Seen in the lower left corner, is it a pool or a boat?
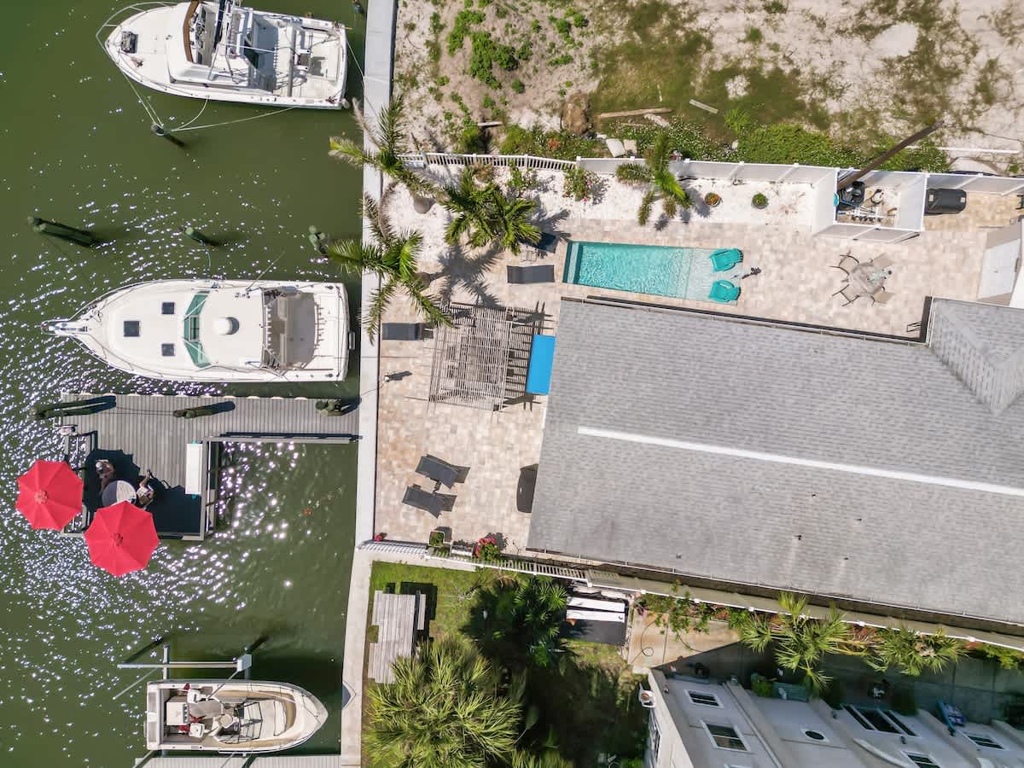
boat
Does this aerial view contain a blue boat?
No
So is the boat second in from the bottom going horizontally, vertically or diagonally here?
horizontally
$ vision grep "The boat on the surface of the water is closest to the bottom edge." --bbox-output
[143,677,329,754]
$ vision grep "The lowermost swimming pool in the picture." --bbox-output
[559,238,748,309]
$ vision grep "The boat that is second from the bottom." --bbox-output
[41,251,354,384]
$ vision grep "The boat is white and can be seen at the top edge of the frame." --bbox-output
[96,0,352,115]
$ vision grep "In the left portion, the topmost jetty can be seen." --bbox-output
[61,390,360,541]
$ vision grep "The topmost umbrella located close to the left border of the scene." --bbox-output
[17,461,92,528]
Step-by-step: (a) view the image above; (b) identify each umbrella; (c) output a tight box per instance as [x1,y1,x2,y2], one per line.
[17,461,92,528]
[87,500,160,575]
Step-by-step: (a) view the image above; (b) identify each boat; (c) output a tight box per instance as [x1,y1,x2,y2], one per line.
[143,677,329,754]
[96,0,352,115]
[41,251,354,384]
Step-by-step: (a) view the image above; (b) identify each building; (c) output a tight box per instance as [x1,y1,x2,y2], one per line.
[645,666,1024,768]
[526,295,1024,627]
